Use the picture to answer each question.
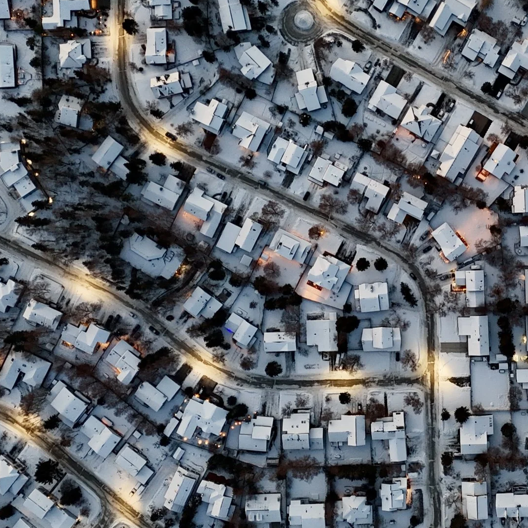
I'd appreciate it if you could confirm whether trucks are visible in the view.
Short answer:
No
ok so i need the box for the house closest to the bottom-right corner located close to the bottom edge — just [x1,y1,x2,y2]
[497,491,528,514]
